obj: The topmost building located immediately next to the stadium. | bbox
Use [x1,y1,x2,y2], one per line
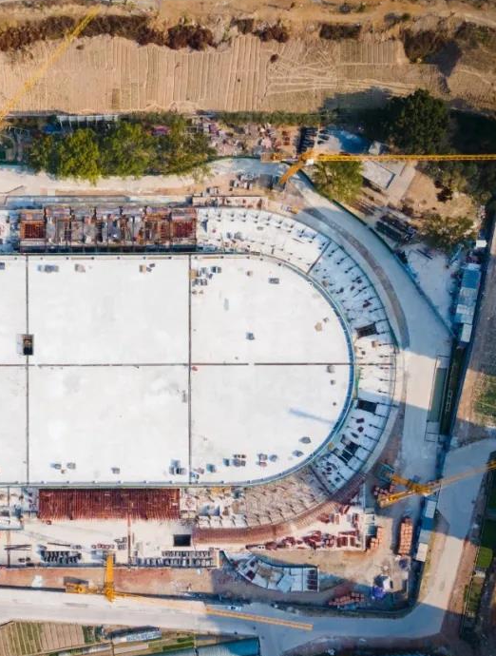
[236,554,318,592]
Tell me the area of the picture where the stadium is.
center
